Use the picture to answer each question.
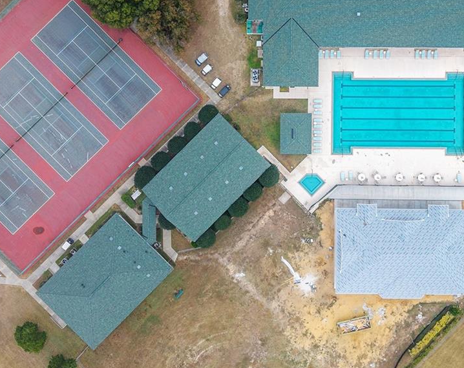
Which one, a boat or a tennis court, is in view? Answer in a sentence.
Visible in the photo is a tennis court.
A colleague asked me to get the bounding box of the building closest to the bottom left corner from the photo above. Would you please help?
[36,213,174,350]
